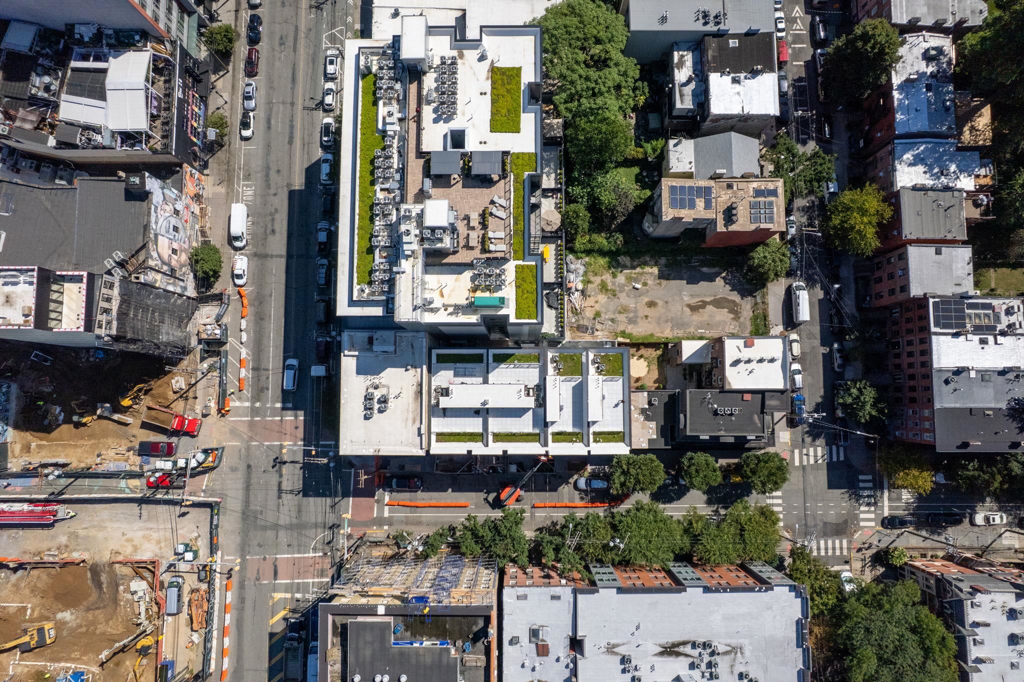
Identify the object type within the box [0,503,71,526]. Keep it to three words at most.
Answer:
truck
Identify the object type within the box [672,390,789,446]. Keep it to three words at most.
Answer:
building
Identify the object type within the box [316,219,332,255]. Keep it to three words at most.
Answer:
vehicle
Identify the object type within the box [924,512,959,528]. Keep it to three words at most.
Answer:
car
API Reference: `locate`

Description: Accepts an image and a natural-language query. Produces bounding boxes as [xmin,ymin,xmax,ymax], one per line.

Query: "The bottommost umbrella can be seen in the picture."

[540,210,561,231]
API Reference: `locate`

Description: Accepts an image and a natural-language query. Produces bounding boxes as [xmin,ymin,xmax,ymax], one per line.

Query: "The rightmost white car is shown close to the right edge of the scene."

[969,512,1004,527]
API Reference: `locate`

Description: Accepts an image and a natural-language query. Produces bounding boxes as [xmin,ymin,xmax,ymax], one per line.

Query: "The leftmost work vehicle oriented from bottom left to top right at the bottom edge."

[131,629,158,670]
